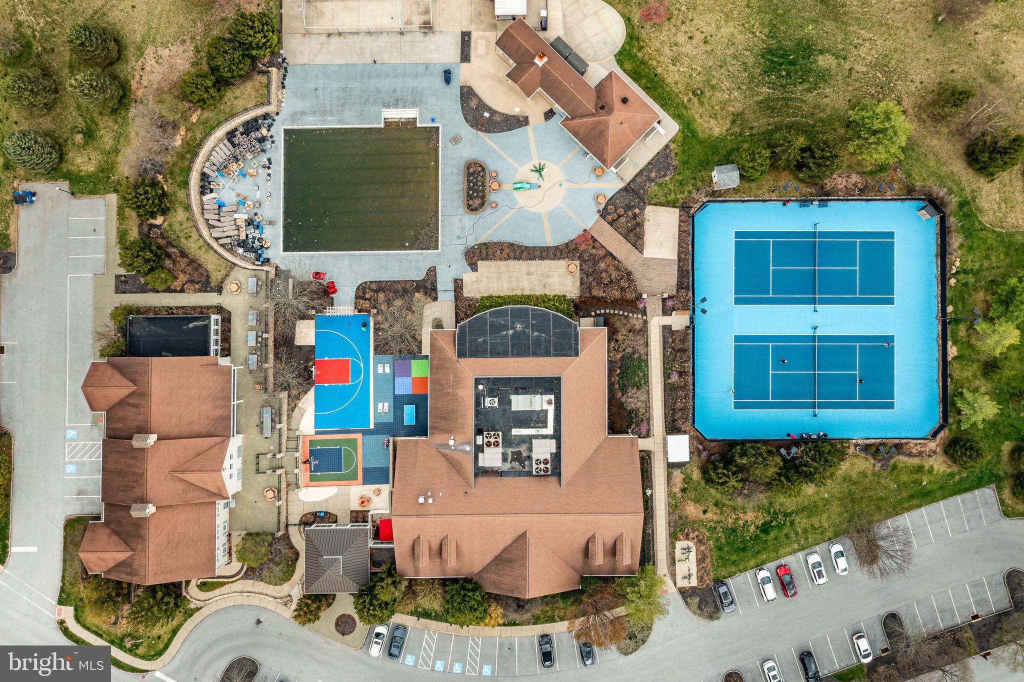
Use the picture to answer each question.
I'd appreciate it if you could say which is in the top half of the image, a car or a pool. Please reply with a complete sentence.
Visible in the top half of the image is a pool.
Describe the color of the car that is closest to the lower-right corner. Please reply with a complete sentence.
In this view, the car that is closest to the lower-right corner is white.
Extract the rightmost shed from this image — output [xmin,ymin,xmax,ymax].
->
[711,165,740,191]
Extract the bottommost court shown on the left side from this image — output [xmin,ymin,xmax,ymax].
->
[303,434,362,487]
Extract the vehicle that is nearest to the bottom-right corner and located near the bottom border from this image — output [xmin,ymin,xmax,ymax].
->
[851,631,872,665]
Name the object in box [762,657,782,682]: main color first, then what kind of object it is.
white car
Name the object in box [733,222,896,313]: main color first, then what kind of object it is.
blue tennis court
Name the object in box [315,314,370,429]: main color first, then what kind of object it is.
blue basketball court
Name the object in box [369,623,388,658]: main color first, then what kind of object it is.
white car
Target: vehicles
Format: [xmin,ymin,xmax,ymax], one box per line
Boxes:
[762,657,782,682]
[578,637,595,670]
[799,651,820,682]
[755,567,777,602]
[851,631,872,665]
[776,564,797,598]
[828,541,848,575]
[806,552,827,586]
[714,580,735,613]
[538,634,554,668]
[388,625,407,659]
[369,623,388,658]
